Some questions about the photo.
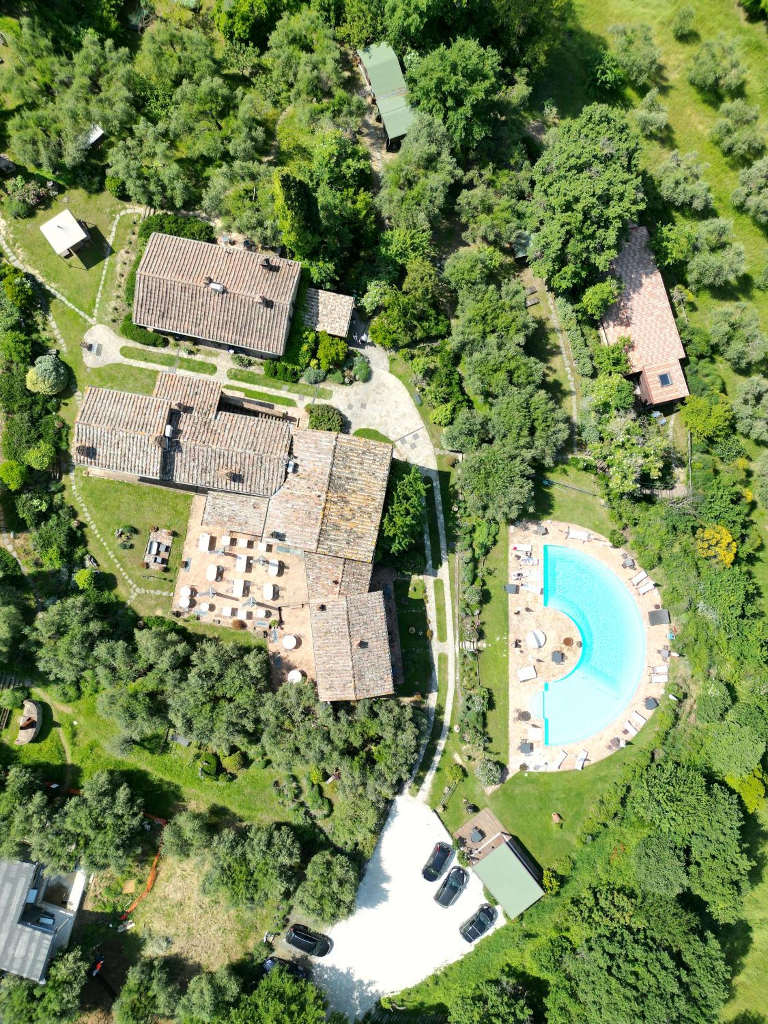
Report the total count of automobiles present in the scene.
five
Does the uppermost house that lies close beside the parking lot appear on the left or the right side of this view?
left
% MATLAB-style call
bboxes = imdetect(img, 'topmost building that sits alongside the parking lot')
[72,371,395,702]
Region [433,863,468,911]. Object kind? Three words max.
car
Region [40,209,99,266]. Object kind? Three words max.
gazebo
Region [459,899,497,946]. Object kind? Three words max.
car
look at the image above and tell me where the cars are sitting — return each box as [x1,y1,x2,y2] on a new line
[433,863,468,911]
[260,949,309,980]
[285,920,335,956]
[420,838,455,883]
[459,899,497,946]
